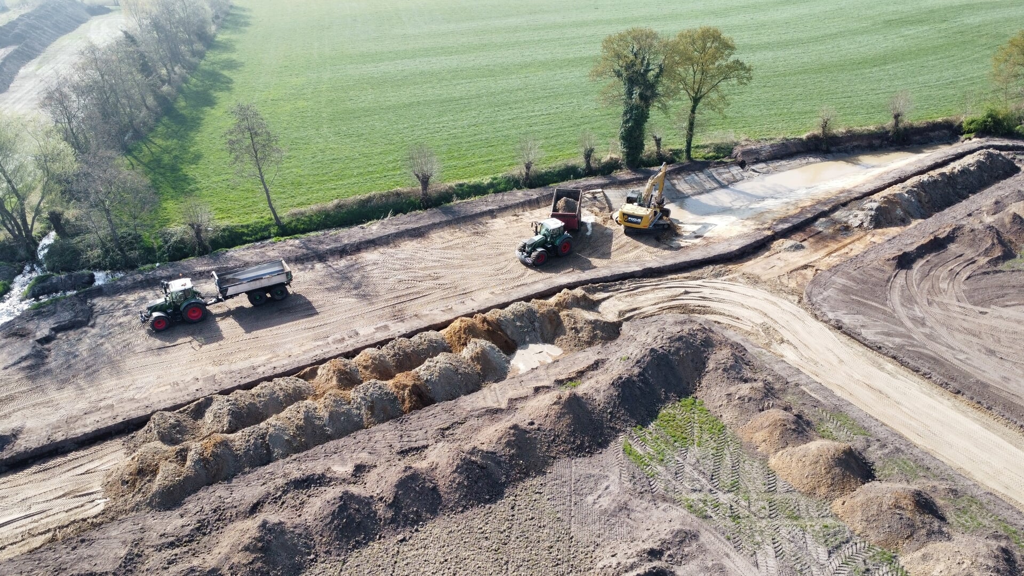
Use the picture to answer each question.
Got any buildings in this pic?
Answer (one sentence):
No, I can see no building in this picture.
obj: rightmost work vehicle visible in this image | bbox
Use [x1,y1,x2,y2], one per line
[616,159,674,233]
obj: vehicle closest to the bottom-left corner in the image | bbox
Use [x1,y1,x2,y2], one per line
[139,275,208,332]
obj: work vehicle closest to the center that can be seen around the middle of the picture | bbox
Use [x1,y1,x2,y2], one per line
[518,214,575,266]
